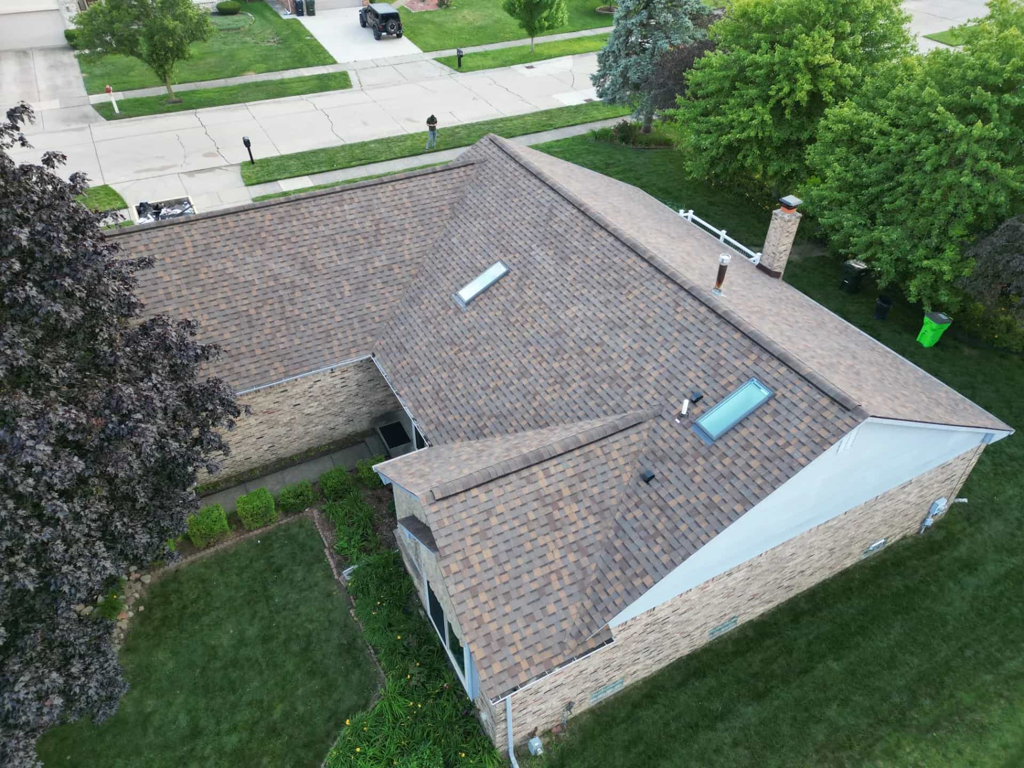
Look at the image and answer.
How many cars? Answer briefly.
1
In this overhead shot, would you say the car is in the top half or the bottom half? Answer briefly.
top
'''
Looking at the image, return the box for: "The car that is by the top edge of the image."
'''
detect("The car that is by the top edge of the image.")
[359,3,400,37]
